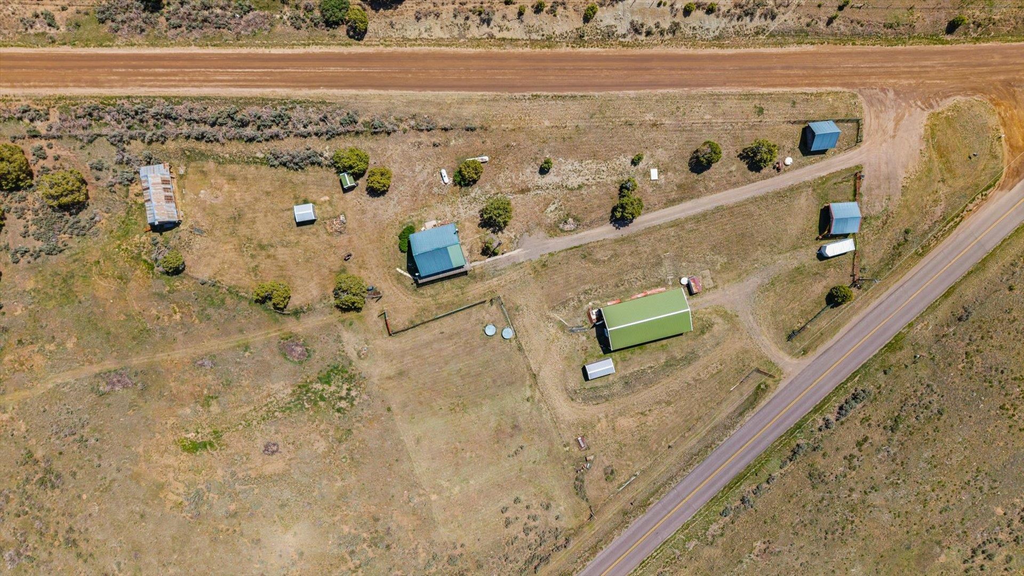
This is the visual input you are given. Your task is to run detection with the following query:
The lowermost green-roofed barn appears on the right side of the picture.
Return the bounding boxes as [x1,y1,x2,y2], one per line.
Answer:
[601,287,692,351]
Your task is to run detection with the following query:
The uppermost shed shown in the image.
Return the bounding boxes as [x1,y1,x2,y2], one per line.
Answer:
[803,119,841,153]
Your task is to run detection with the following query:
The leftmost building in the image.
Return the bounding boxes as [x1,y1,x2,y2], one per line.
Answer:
[138,165,188,226]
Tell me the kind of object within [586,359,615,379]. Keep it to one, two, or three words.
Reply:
shed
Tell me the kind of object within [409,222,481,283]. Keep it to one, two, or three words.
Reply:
house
